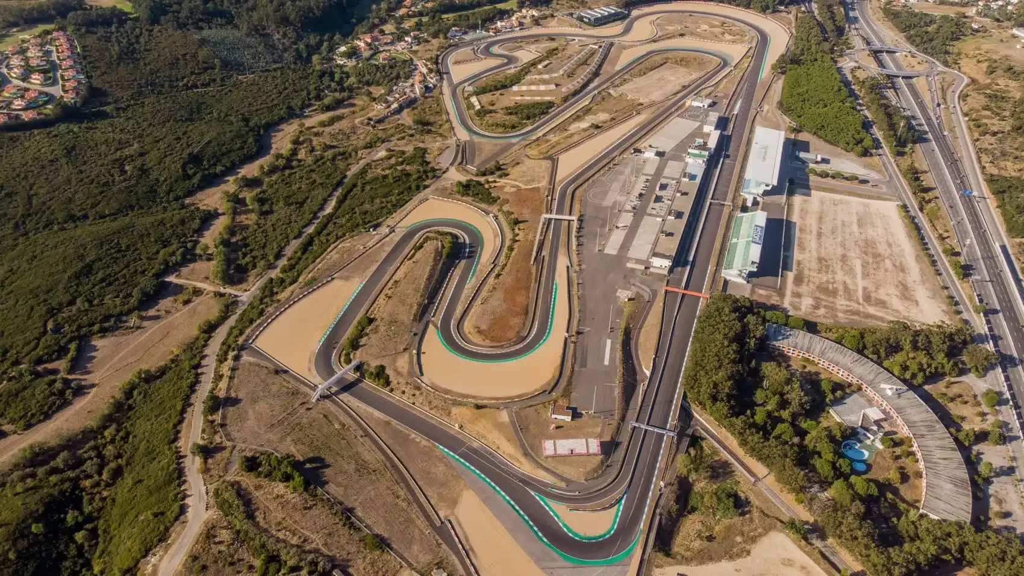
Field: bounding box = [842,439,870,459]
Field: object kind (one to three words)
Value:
swimming pool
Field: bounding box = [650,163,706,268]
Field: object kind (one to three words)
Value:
building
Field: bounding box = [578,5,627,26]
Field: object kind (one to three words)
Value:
shed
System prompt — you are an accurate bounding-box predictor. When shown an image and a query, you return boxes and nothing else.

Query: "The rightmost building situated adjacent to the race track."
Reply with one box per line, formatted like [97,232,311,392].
[765,323,972,531]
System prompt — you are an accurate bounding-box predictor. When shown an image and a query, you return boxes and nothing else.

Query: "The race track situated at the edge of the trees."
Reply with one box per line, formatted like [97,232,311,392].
[315,10,769,560]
